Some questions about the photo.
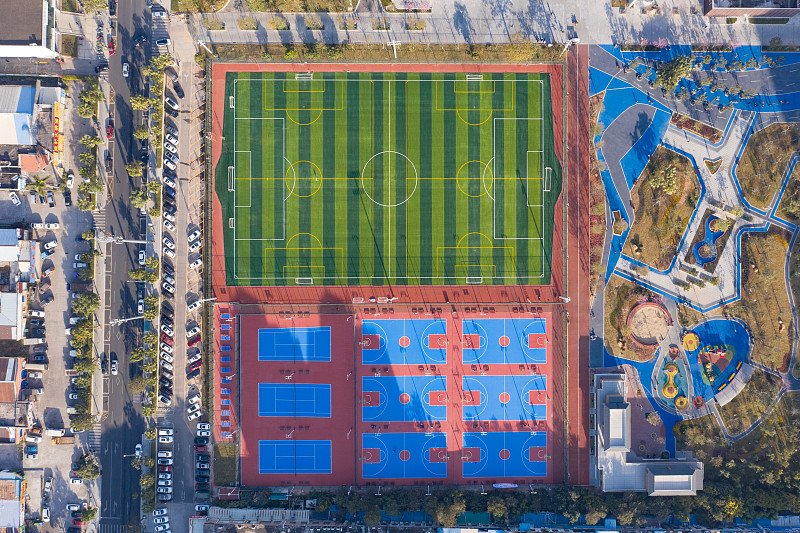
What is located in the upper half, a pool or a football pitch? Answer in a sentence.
There is a football pitch in the upper half.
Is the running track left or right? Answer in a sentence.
The running track sits on the right side.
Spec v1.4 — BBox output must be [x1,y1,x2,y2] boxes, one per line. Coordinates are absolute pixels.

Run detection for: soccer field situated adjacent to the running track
[216,72,562,285]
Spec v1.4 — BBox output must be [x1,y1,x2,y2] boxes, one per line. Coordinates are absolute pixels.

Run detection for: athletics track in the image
[568,45,590,488]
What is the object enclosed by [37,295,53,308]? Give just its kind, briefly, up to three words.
vehicle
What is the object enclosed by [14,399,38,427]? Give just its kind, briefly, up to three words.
building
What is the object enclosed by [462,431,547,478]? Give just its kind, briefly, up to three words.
basketball court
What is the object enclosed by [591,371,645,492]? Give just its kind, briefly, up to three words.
building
